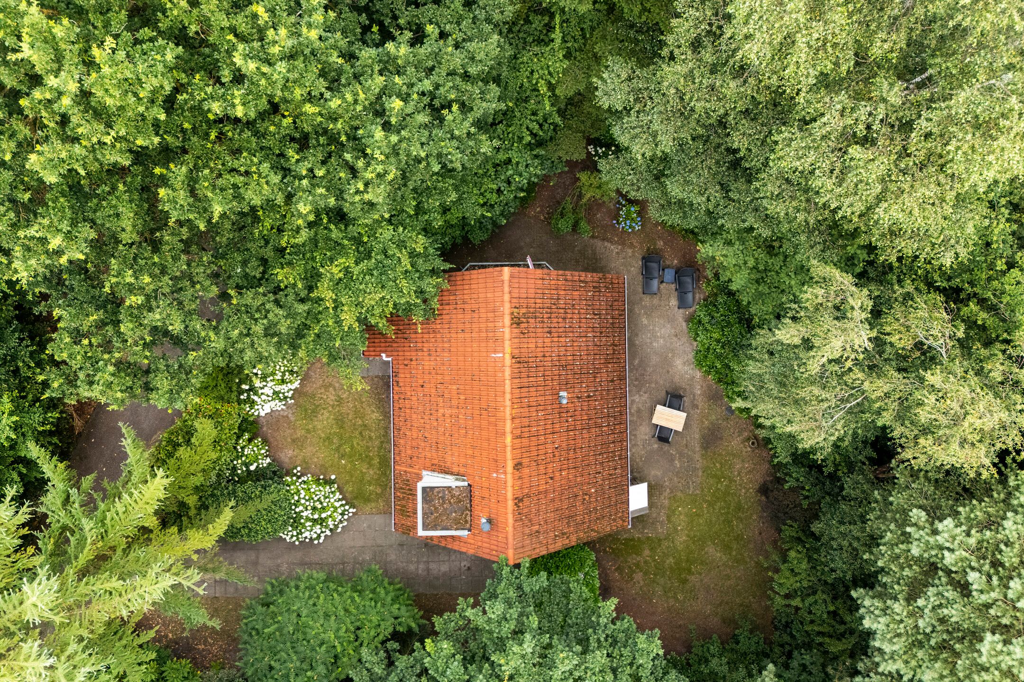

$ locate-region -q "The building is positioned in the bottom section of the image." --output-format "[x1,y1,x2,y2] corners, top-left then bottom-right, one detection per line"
[358,262,648,566]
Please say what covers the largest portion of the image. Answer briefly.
trees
